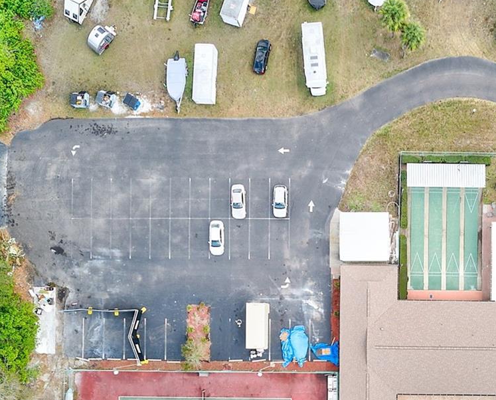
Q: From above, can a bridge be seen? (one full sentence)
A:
No, the frame has no bridge in it.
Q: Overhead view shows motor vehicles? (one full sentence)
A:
Yes, I can see a motor vehicle in this picture.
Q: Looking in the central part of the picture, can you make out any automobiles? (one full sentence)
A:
Yes, there is an automobile in the central part of the picture.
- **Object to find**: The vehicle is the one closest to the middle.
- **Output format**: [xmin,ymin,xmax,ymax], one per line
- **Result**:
[230,184,246,218]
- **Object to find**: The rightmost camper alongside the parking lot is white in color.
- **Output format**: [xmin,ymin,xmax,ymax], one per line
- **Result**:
[302,16,328,100]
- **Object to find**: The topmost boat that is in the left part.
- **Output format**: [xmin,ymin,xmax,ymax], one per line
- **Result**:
[189,0,208,25]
